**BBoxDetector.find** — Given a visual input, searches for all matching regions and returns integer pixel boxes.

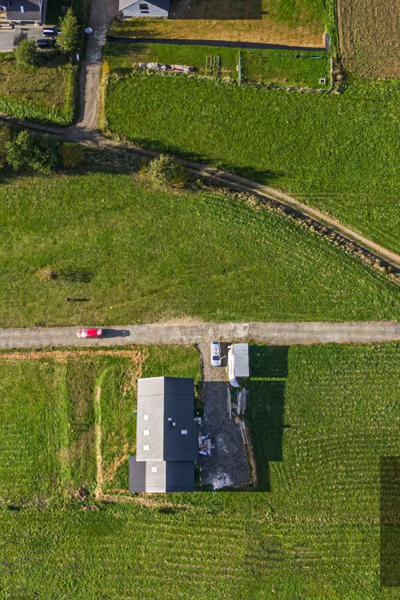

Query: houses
[120,0,187,26]
[0,0,55,38]
[128,375,199,492]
